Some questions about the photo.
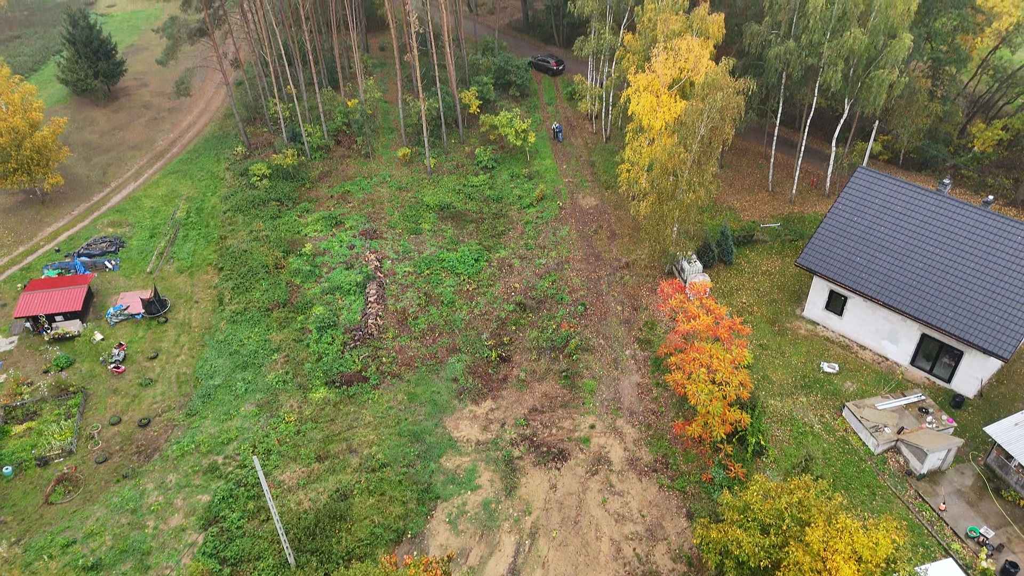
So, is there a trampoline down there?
Yes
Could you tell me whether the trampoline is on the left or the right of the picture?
left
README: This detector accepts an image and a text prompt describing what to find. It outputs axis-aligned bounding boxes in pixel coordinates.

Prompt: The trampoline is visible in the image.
[137,275,172,311]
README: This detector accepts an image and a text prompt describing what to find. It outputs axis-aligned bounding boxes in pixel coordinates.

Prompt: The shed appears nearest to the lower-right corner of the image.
[985,411,1024,493]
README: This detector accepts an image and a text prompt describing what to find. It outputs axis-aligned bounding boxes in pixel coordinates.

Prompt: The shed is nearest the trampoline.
[12,273,106,342]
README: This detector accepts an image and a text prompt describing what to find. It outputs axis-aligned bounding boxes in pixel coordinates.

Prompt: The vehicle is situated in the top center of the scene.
[534,54,568,73]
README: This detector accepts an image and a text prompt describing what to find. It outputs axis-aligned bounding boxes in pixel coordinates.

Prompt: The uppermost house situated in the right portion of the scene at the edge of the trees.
[793,167,1024,399]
